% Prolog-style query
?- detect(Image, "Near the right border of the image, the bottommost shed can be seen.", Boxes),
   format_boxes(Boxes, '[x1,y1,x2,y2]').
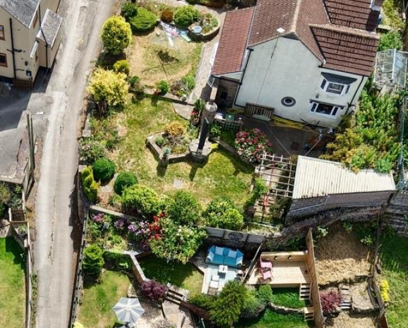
[284,156,394,218]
